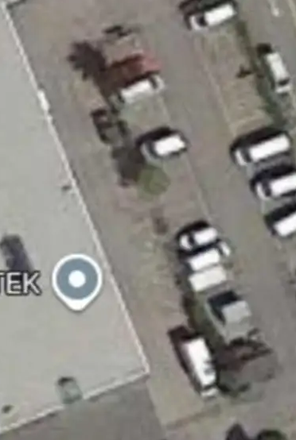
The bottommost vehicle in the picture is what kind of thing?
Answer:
truck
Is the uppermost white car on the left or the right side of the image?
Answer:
right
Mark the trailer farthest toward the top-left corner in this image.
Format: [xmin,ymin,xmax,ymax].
[103,36,143,64]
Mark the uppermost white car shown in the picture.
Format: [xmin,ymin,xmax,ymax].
[188,0,240,30]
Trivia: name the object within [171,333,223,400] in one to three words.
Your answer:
truck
